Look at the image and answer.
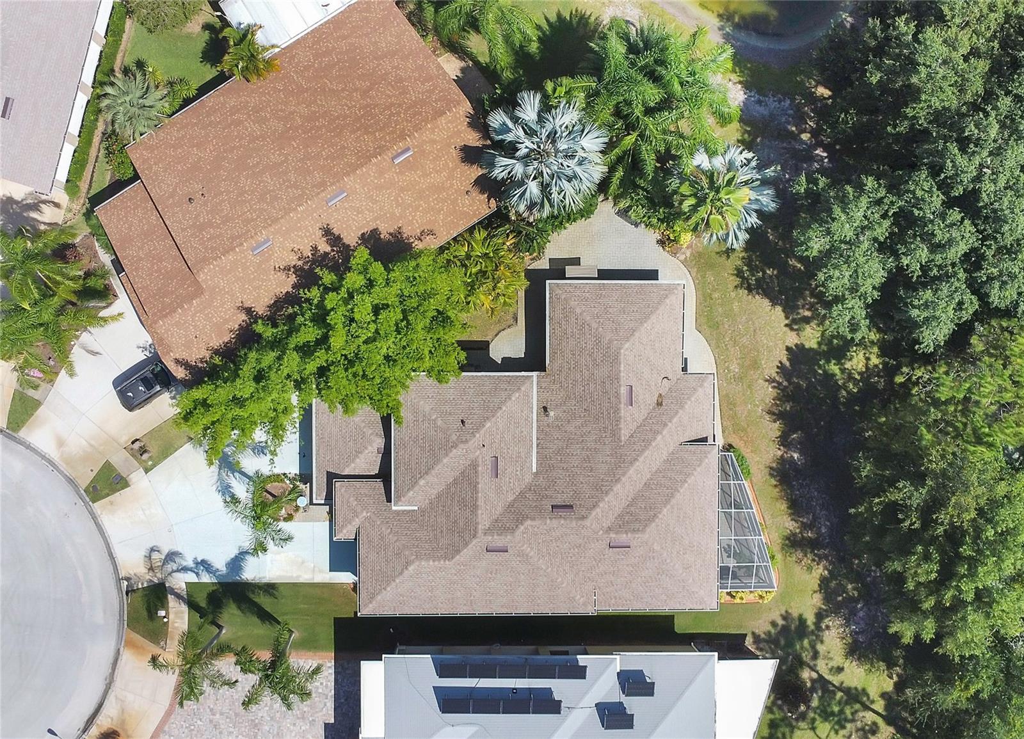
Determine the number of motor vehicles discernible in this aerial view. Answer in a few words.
1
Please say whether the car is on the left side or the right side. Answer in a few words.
left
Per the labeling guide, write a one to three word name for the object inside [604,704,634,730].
solar panel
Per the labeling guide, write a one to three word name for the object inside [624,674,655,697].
solar panel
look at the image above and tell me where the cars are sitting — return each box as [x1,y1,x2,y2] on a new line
[117,358,182,412]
